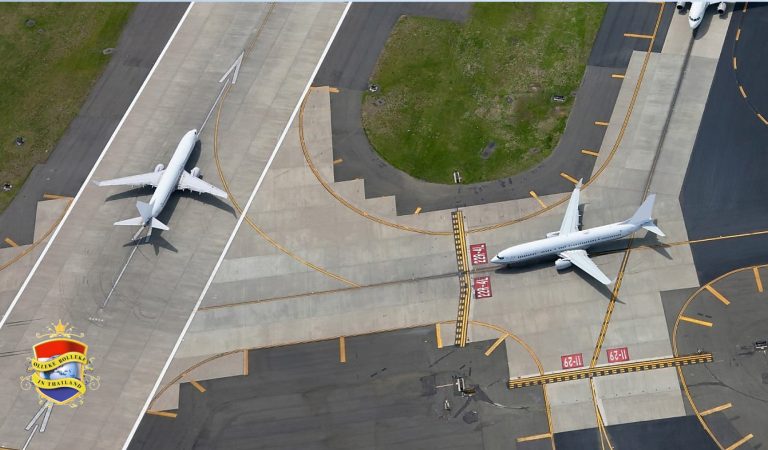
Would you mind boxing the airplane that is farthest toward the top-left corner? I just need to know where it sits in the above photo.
[93,128,229,229]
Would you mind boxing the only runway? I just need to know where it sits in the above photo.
[0,0,362,450]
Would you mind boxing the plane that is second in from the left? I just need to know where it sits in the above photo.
[490,176,665,286]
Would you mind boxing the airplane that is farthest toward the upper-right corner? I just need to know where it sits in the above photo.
[675,0,726,28]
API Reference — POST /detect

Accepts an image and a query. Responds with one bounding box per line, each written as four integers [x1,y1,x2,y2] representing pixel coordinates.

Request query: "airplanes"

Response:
[93,128,229,229]
[675,0,726,28]
[490,176,665,286]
